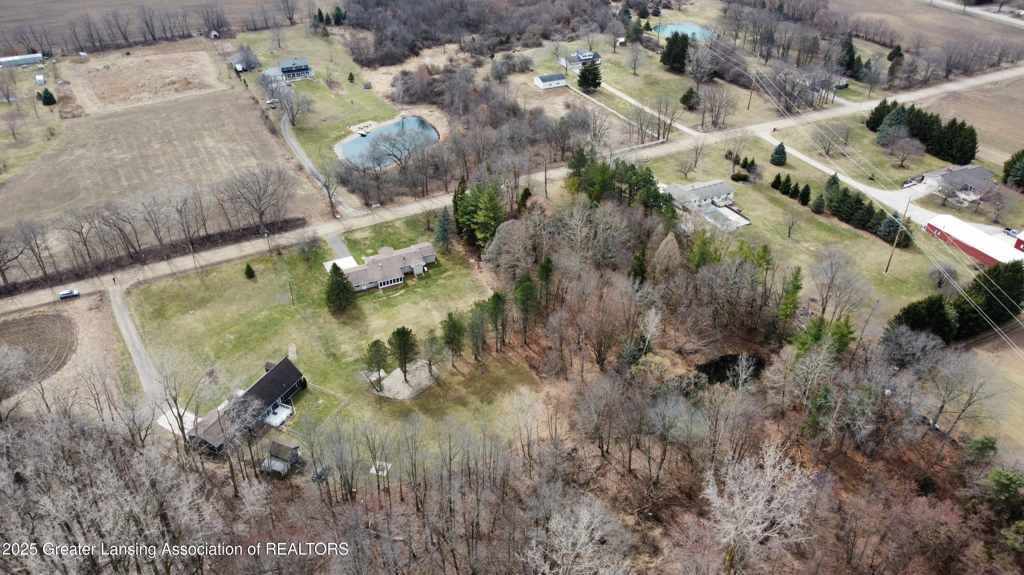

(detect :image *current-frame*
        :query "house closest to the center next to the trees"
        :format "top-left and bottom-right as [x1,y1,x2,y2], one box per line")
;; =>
[343,242,437,291]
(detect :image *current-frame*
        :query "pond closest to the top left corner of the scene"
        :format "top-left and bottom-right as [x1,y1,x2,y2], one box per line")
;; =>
[342,116,440,169]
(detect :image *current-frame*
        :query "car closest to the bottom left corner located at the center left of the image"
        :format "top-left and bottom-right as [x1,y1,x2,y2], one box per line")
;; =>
[56,288,81,300]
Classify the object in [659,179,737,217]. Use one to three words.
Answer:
building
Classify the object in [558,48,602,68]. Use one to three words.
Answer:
house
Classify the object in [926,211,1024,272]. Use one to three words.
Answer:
barn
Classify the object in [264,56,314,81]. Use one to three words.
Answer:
house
